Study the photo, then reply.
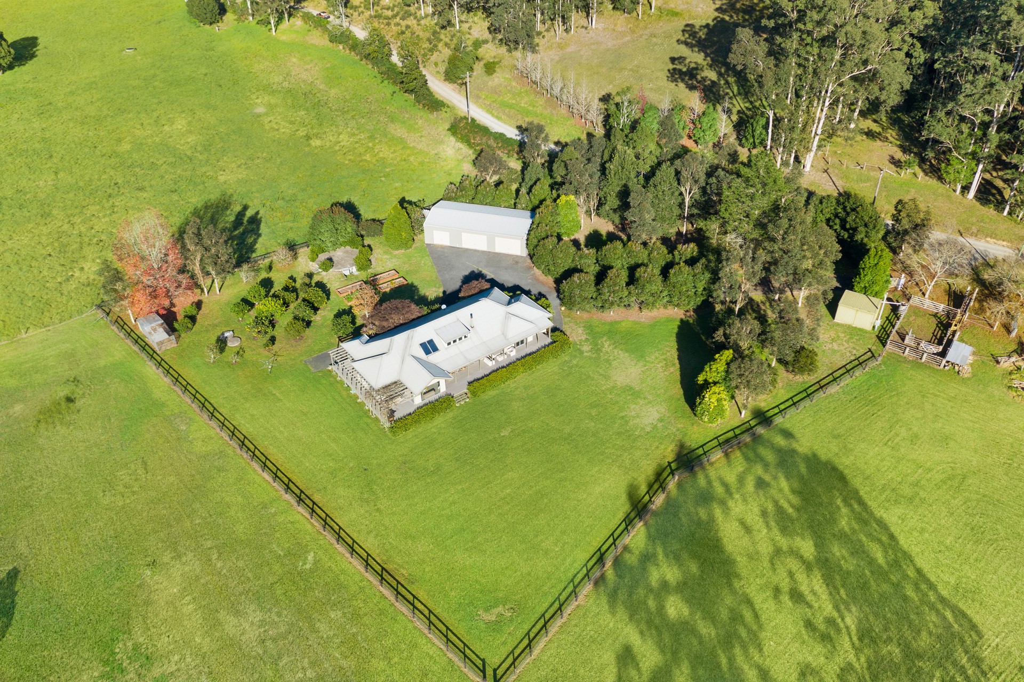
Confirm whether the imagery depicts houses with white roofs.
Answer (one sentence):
Yes, a house with a white roof is visible in the scene.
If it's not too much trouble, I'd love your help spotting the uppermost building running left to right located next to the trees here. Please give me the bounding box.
[423,200,536,256]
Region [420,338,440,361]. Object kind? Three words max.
solar panel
